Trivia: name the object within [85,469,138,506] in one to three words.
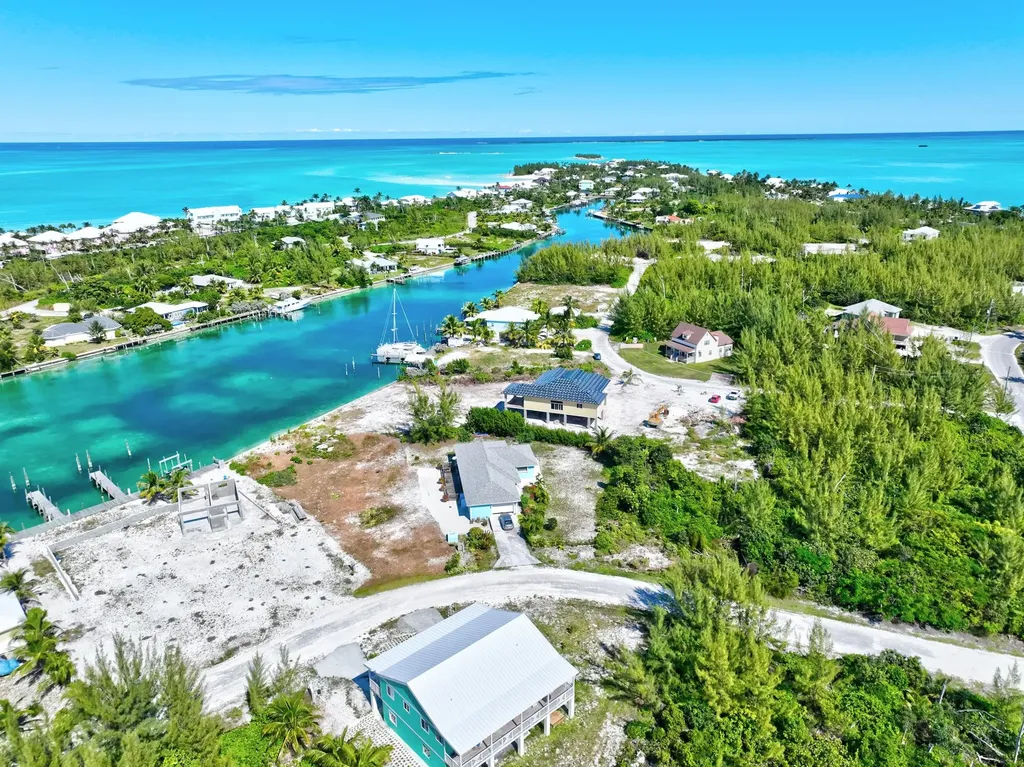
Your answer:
pier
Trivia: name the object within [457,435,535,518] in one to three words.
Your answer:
house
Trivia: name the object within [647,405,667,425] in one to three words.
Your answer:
work vehicle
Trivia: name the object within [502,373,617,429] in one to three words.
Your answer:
house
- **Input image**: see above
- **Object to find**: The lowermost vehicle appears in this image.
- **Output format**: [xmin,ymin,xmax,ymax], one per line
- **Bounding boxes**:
[498,511,513,529]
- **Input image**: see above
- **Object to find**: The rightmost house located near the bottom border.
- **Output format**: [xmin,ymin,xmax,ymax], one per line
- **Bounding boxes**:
[363,603,580,767]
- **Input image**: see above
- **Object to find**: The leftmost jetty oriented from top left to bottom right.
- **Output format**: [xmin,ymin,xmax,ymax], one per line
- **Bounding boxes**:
[19,487,79,527]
